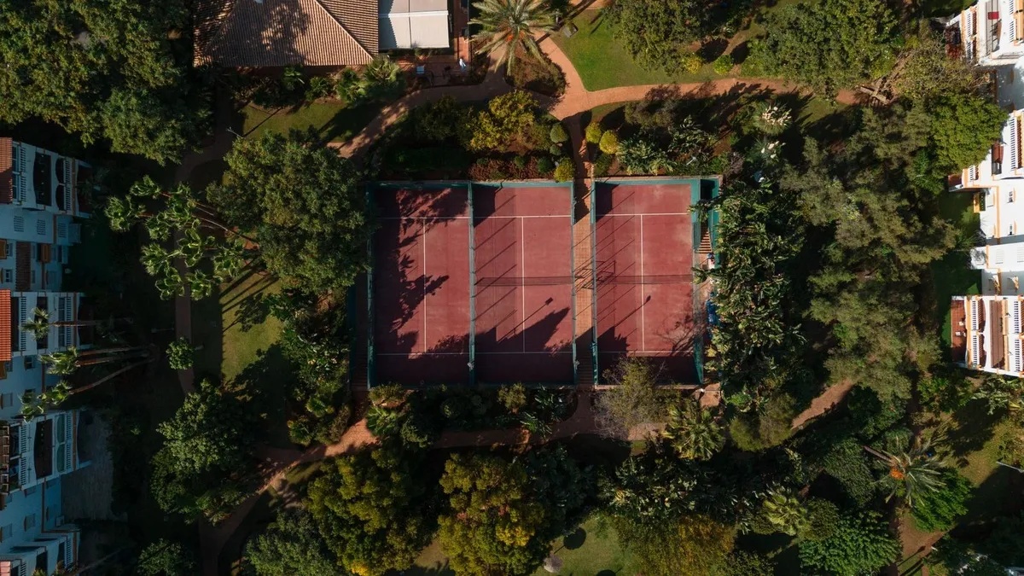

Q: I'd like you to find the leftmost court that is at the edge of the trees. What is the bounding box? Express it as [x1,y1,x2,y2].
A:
[364,178,471,390]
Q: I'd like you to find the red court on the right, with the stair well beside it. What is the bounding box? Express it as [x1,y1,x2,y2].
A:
[593,178,704,390]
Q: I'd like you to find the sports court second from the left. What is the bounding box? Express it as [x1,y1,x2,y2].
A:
[469,178,578,390]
